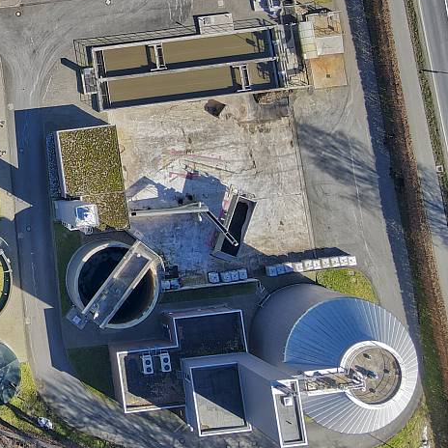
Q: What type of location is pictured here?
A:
industrial area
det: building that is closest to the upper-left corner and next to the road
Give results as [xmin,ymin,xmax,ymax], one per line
[53,124,131,236]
